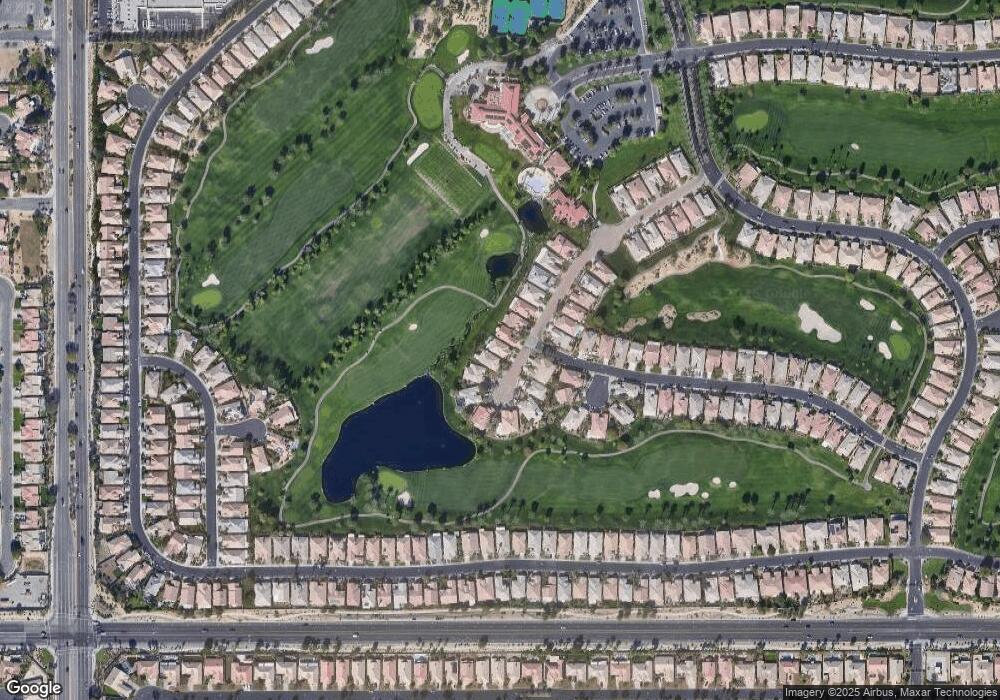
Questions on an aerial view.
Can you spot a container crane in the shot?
No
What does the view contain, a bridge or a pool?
pool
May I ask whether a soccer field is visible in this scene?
No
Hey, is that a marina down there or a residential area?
residential area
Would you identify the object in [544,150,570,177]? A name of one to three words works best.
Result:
building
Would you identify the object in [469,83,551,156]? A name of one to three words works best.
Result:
building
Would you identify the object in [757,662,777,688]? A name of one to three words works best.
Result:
house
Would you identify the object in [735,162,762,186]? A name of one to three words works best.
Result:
house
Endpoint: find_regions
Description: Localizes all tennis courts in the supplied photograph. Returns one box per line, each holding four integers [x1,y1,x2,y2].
[547,0,565,20]
[530,0,547,18]
[491,0,509,31]
[509,0,528,34]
